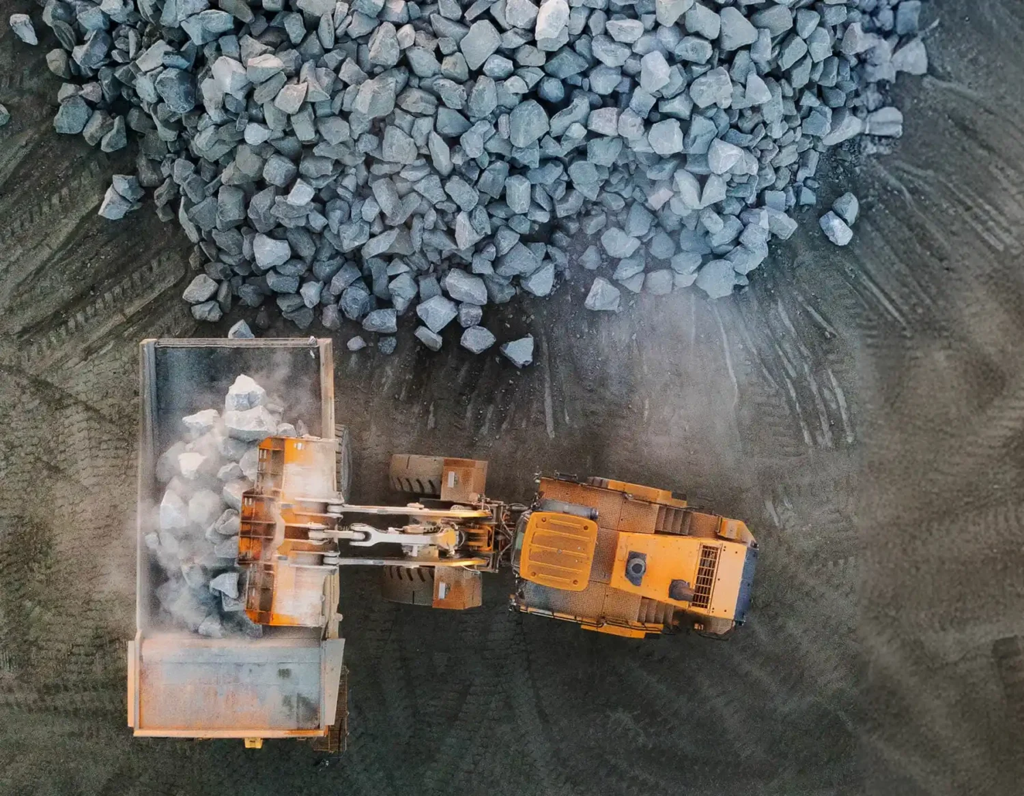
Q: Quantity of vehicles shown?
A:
2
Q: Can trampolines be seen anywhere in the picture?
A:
No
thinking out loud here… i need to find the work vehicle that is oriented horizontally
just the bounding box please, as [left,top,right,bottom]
[232,437,760,641]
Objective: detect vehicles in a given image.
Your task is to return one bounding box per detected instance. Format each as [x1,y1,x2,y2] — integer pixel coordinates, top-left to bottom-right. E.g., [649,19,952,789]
[232,437,760,641]
[128,338,363,768]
